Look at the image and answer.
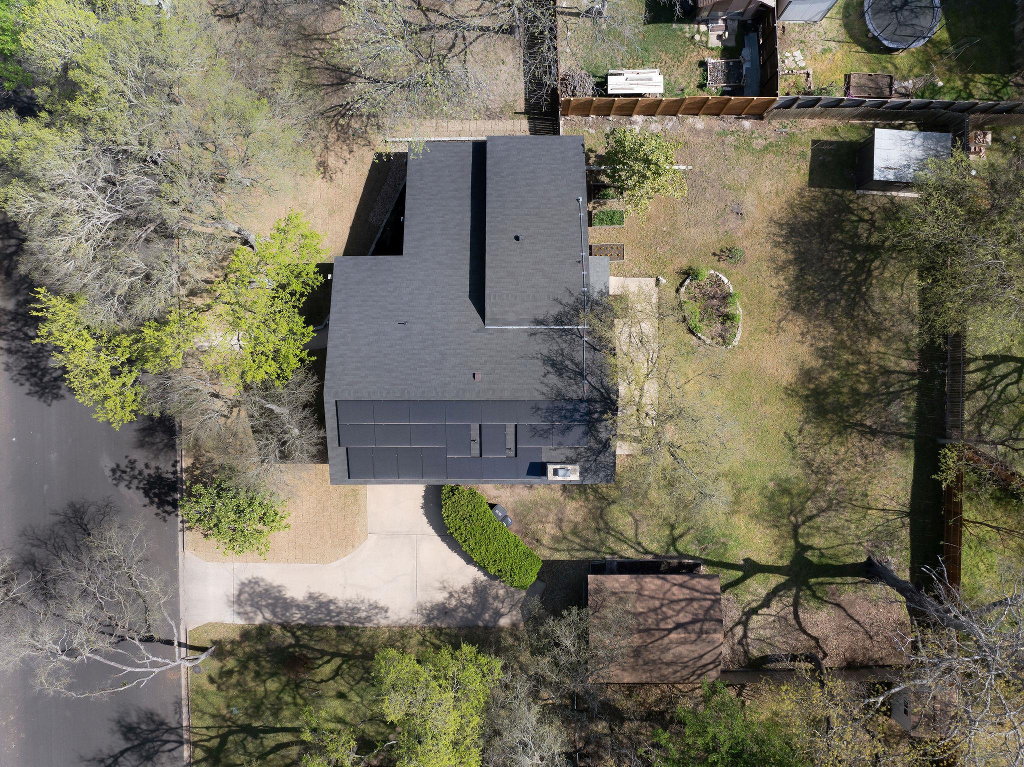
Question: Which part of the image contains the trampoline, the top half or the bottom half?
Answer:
top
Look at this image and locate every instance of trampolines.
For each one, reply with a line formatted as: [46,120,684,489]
[858,0,961,58]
